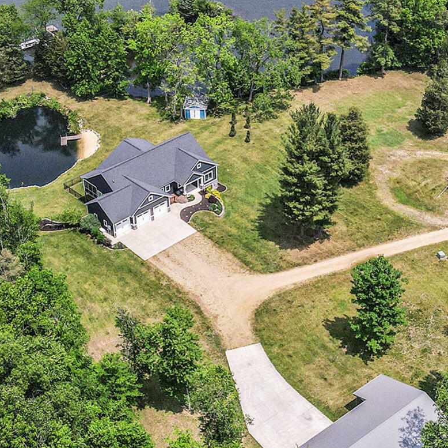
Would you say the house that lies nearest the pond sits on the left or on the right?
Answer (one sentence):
The house that lies nearest the pond is on the left side of the image.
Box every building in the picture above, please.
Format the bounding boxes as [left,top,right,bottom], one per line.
[182,95,207,118]
[297,377,442,448]
[81,133,219,237]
